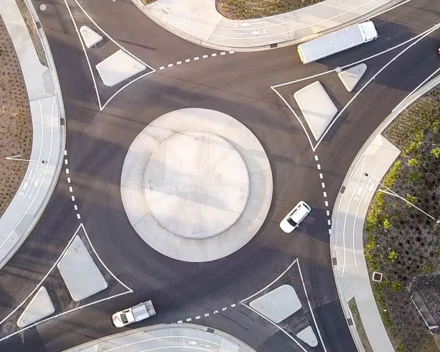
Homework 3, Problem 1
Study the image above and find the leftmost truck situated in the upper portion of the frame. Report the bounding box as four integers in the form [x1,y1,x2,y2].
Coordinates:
[291,19,377,67]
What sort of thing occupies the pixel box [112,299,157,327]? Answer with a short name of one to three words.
truck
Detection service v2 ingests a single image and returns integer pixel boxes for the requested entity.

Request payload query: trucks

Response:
[112,299,157,327]
[291,19,377,67]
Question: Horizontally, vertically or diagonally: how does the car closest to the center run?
diagonally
